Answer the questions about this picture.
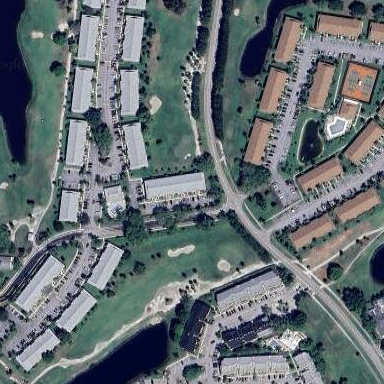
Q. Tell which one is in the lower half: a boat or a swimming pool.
swimming pool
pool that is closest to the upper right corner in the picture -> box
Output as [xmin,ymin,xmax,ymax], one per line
[323,114,353,141]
